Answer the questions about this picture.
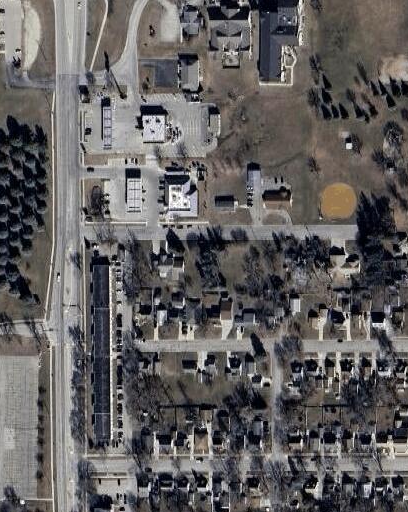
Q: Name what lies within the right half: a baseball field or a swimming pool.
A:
baseball field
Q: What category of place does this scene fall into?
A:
residential area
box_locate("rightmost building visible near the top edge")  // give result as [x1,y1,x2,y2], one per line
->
[260,0,299,80]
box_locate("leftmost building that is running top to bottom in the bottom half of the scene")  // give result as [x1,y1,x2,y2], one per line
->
[92,265,109,446]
